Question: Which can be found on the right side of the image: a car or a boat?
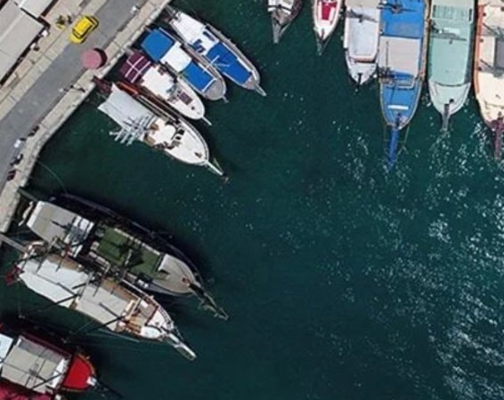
boat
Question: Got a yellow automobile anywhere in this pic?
Yes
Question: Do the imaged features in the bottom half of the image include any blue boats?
No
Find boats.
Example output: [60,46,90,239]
[367,0,431,167]
[339,0,384,94]
[3,169,229,319]
[76,75,225,176]
[155,1,267,95]
[260,0,301,42]
[474,0,504,161]
[310,0,344,54]
[135,27,227,99]
[0,316,123,400]
[111,52,212,126]
[0,374,64,400]
[0,228,196,359]
[428,0,477,130]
